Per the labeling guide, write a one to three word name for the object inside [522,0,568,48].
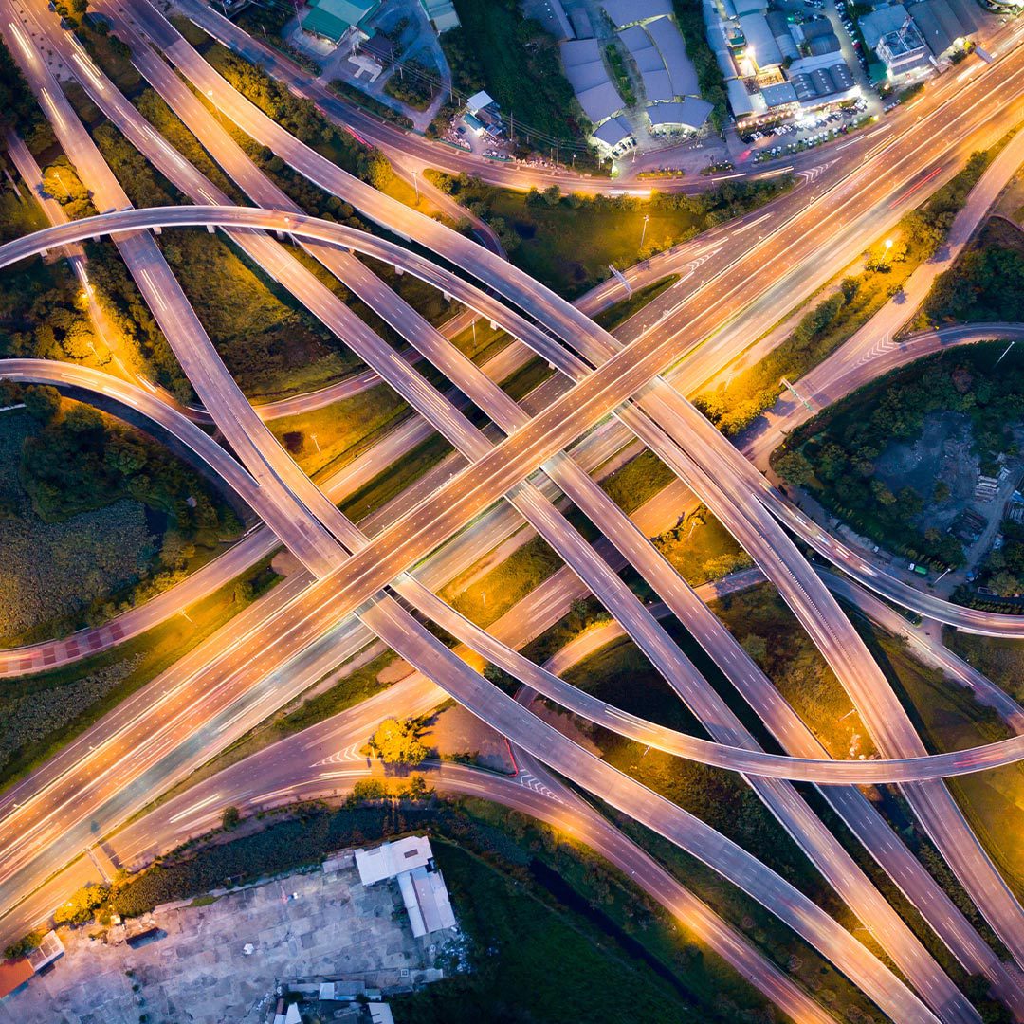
building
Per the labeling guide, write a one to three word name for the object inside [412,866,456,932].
building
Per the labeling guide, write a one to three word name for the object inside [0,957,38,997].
shed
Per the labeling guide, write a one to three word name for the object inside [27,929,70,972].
shed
